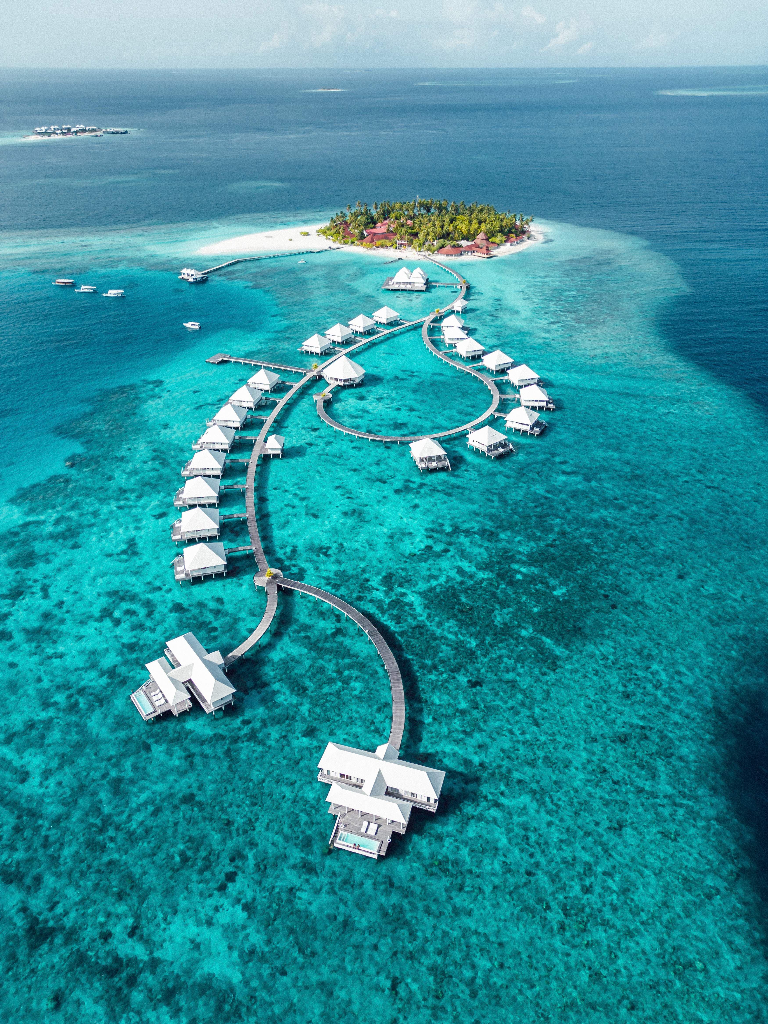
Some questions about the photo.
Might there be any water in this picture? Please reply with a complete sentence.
Yes, there is water in the image.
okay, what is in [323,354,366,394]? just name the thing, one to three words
building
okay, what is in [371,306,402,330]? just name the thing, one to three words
house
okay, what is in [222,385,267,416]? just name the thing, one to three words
house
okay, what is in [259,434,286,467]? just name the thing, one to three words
shed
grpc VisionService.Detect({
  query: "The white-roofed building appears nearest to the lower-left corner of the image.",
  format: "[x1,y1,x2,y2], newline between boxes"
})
[168,542,230,593]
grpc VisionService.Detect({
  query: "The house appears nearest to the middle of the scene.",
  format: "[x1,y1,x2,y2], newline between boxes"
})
[409,437,454,480]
